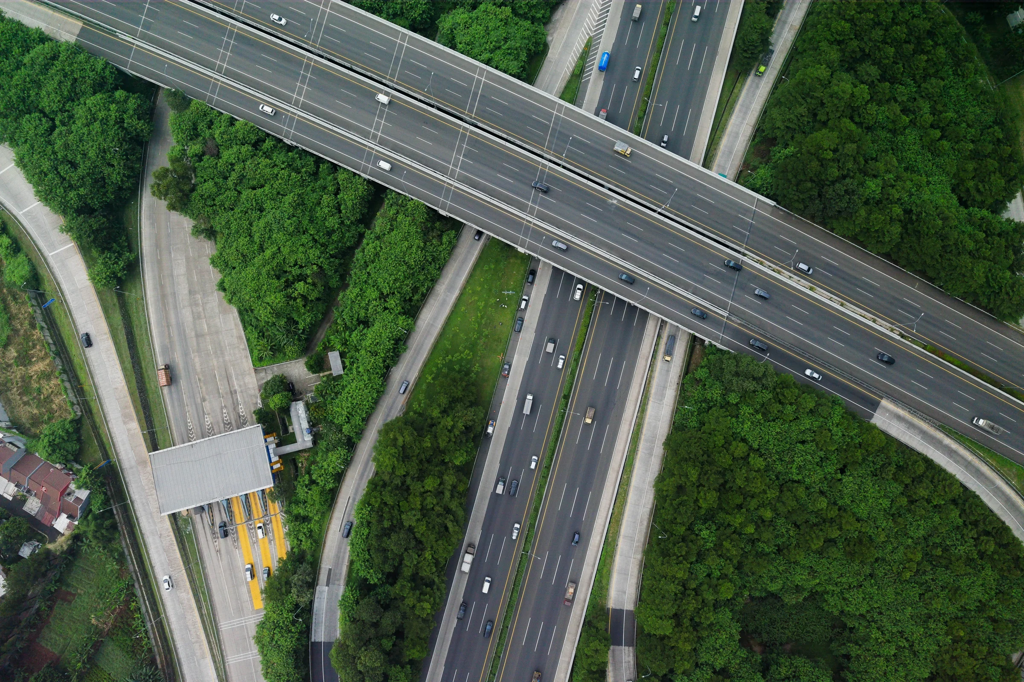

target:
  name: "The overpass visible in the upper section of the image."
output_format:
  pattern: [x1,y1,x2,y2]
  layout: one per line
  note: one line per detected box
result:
[43,0,1021,443]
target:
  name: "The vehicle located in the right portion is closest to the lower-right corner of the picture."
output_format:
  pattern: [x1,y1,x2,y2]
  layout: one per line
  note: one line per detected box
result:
[971,415,1005,437]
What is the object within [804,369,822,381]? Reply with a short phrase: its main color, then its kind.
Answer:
white vehicle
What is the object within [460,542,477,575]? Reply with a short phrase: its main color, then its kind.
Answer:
white vehicle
